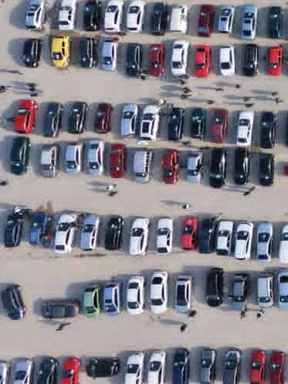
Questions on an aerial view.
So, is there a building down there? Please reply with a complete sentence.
No, this view has no building in it.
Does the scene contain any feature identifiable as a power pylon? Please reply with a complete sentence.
No, the photo shows no power pylon.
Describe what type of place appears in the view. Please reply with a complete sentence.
It's a parking lot.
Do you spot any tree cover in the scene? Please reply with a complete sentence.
No, no tree cover is visible.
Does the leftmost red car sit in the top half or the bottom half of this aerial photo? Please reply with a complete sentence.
You can find the leftmost red car in the top half.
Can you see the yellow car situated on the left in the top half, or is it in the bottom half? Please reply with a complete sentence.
Seen from above, the yellow car situated on the left lies in the top half of the view.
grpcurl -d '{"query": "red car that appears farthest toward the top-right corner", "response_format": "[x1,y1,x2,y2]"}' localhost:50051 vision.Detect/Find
[267,44,284,78]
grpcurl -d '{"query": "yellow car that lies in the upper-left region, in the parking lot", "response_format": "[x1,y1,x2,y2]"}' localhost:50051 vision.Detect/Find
[52,36,72,69]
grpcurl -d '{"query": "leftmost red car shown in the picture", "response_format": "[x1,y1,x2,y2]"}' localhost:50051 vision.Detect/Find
[15,101,38,132]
